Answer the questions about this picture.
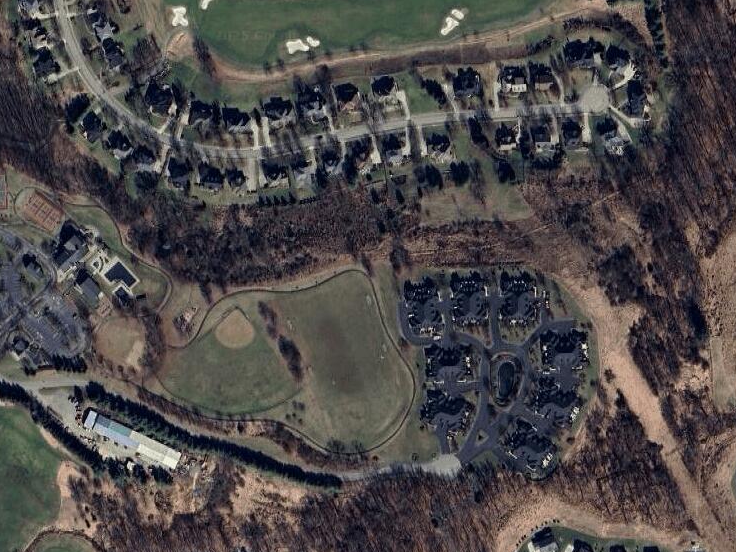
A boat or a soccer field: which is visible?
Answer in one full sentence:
Looking from above, you can make out a soccer field.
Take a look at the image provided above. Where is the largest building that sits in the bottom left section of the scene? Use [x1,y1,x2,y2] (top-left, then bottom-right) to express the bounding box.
[97,412,184,465]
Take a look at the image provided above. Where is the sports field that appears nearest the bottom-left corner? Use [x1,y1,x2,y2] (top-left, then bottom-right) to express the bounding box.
[92,318,147,367]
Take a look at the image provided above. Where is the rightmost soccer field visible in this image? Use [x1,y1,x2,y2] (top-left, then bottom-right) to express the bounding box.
[287,280,401,440]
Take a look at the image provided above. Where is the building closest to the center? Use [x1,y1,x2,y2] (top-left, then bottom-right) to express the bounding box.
[405,291,449,330]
